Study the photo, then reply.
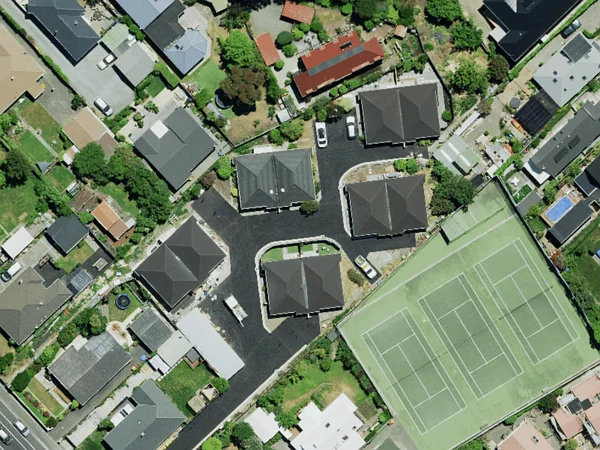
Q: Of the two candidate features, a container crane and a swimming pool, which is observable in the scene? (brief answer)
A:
swimming pool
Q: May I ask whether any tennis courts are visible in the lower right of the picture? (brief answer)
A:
Yes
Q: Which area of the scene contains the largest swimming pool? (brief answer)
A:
right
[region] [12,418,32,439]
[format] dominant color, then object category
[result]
white car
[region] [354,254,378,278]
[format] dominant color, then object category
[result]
white truck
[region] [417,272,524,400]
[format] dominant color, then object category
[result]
green tennis court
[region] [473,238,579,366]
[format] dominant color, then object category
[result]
green tennis court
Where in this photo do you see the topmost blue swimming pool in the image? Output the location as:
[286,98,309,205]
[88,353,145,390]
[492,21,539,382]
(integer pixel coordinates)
[544,195,575,223]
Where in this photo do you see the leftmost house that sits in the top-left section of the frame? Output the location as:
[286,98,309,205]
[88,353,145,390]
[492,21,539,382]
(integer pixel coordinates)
[0,23,46,116]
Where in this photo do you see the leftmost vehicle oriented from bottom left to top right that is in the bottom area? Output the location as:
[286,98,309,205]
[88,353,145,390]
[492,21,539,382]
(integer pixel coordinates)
[0,260,23,282]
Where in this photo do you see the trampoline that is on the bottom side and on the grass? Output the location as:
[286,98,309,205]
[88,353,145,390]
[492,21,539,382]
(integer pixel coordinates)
[115,293,131,309]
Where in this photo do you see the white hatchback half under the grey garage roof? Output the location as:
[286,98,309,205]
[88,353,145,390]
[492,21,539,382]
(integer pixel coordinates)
[96,52,117,70]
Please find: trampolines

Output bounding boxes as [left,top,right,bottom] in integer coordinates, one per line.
[115,293,131,309]
[212,93,231,110]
